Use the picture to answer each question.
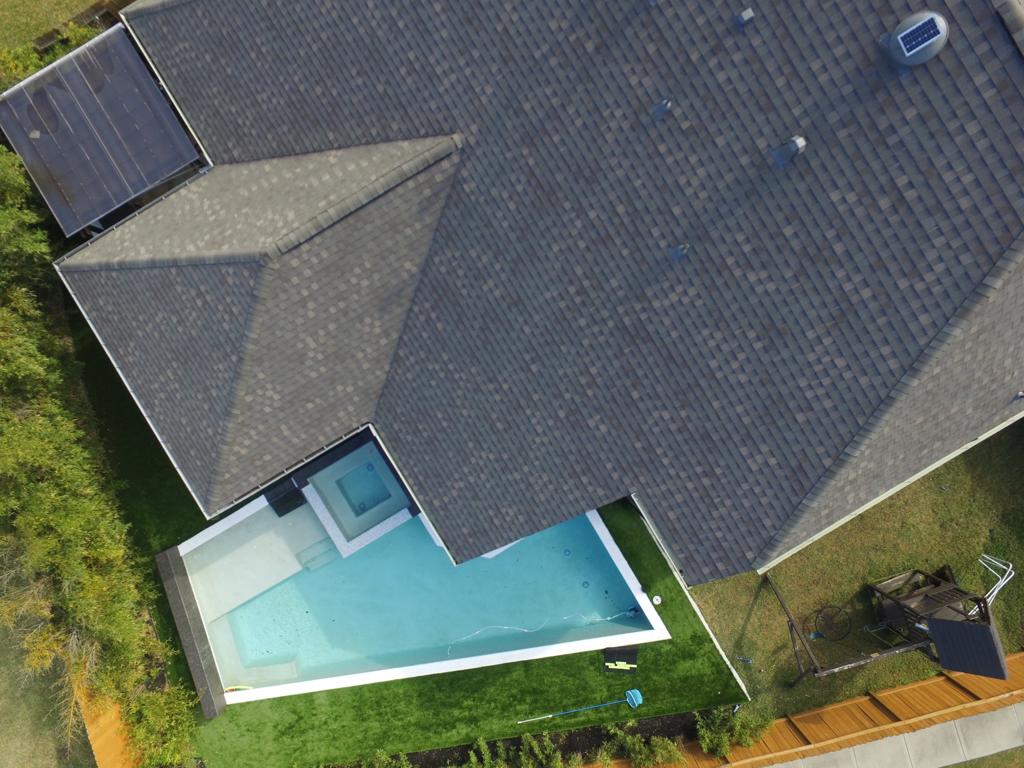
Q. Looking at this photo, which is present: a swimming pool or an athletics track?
swimming pool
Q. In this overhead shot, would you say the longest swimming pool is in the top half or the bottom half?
bottom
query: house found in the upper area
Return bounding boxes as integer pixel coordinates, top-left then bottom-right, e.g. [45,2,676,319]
[46,0,1024,593]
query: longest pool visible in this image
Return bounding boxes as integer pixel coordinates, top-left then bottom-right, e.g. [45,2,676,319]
[178,483,671,704]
